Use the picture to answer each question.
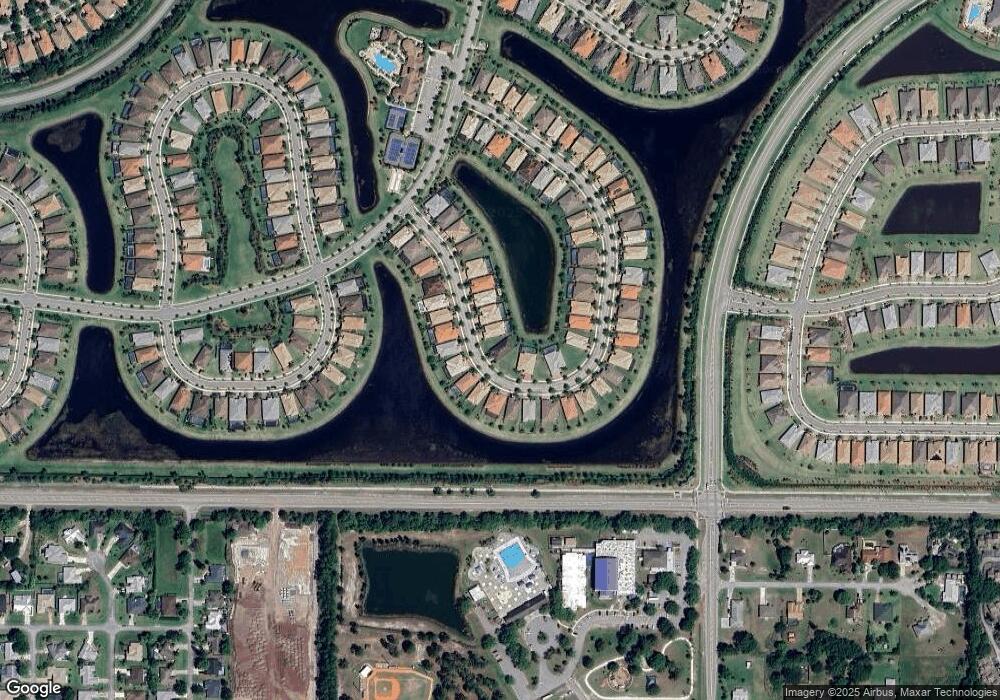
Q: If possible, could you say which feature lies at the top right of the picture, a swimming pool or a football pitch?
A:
swimming pool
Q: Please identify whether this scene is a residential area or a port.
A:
residential area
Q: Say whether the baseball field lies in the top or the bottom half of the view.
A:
bottom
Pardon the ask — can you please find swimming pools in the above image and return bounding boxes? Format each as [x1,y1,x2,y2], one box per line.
[363,41,404,79]
[468,532,551,621]
[962,0,989,32]
[863,539,876,549]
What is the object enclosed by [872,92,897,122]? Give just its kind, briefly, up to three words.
house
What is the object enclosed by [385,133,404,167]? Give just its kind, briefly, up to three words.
tennis court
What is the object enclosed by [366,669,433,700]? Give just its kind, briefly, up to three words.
baseball field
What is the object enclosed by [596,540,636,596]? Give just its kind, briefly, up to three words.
building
